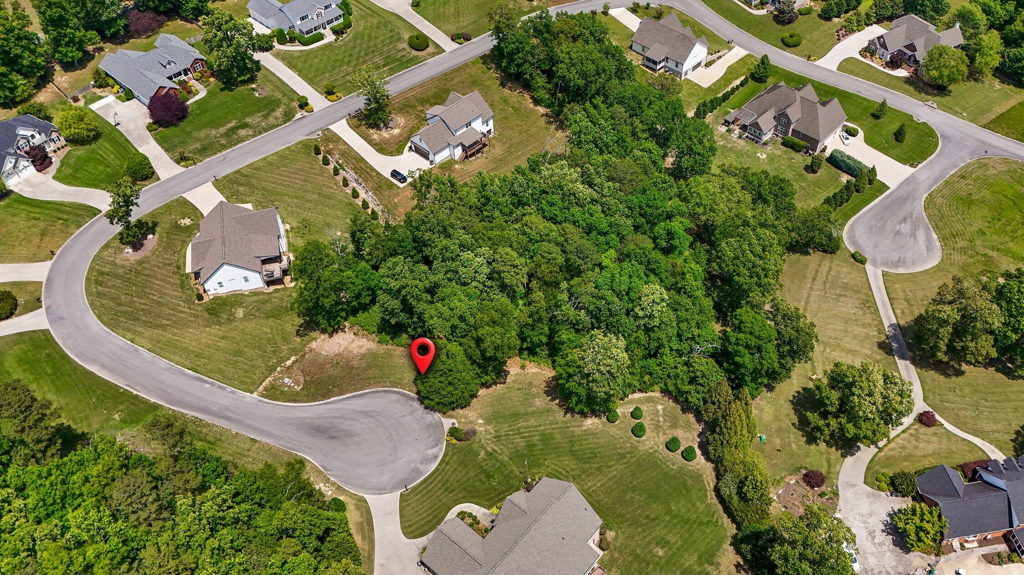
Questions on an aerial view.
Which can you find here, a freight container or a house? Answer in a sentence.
Of the two, only a house appears.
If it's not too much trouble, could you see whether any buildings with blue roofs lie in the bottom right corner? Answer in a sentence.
No, in the bottom right corner there is no building with a blue roof.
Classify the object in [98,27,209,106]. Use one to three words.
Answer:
house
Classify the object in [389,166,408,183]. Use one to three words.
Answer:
car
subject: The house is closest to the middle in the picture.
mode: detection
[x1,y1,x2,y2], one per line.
[408,89,495,164]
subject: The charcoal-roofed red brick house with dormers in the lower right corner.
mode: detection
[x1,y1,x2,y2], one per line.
[914,451,1024,558]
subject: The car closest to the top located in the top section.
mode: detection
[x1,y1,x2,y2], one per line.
[839,129,854,145]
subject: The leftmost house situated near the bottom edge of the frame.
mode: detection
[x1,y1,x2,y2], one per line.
[417,476,613,575]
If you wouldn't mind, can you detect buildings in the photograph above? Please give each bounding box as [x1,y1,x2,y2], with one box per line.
[247,0,344,37]
[864,14,965,75]
[914,451,1024,558]
[0,112,68,185]
[408,89,495,164]
[187,199,293,297]
[630,12,708,82]
[712,79,847,152]
[98,27,209,106]
[417,476,613,575]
